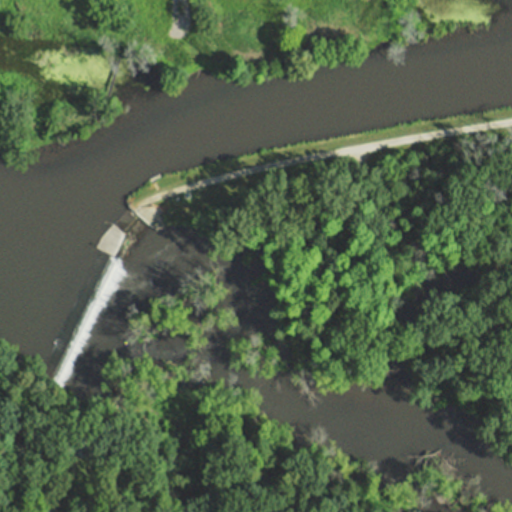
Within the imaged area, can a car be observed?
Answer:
No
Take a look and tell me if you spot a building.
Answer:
No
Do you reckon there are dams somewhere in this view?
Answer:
Yes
